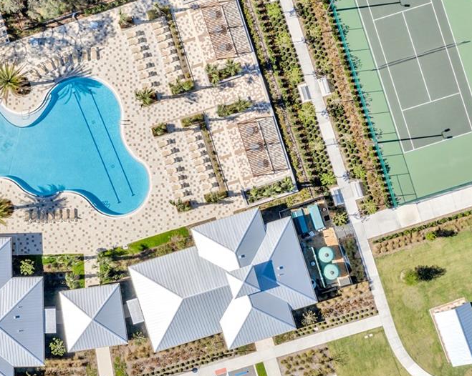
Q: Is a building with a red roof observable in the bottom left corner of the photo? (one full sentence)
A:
No, no building with a red roof is visible in the bottom left corner of the photo.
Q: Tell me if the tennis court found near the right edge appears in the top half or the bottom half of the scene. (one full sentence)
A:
It is in the top half that the tennis court found near the right edge appears.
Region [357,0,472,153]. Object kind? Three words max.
tennis court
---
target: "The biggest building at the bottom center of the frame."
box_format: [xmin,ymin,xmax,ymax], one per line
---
[131,208,319,352]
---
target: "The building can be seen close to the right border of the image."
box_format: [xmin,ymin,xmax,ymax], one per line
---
[433,301,472,367]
